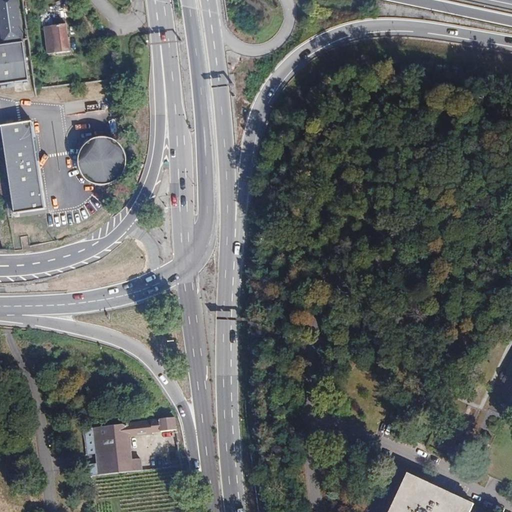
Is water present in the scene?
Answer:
No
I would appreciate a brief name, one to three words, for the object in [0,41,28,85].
building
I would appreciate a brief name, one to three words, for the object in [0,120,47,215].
building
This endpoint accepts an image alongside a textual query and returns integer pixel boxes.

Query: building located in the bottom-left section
[84,416,177,476]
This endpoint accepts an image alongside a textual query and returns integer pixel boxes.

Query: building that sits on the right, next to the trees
[385,470,474,512]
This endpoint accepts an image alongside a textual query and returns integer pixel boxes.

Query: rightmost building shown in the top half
[76,136,126,187]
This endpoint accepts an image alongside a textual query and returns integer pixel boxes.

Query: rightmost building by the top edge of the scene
[43,23,70,55]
